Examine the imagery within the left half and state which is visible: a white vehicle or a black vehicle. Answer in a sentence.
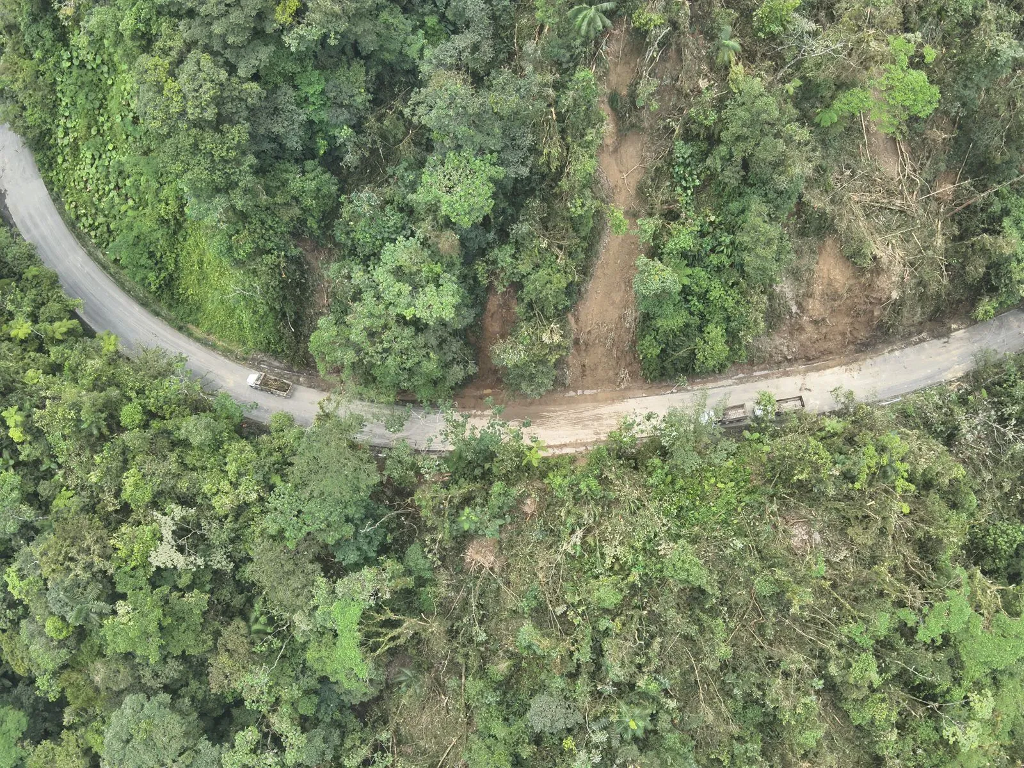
There is a white vehicle within the left half.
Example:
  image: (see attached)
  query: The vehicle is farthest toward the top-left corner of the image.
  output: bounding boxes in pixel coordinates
[243,368,293,397]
